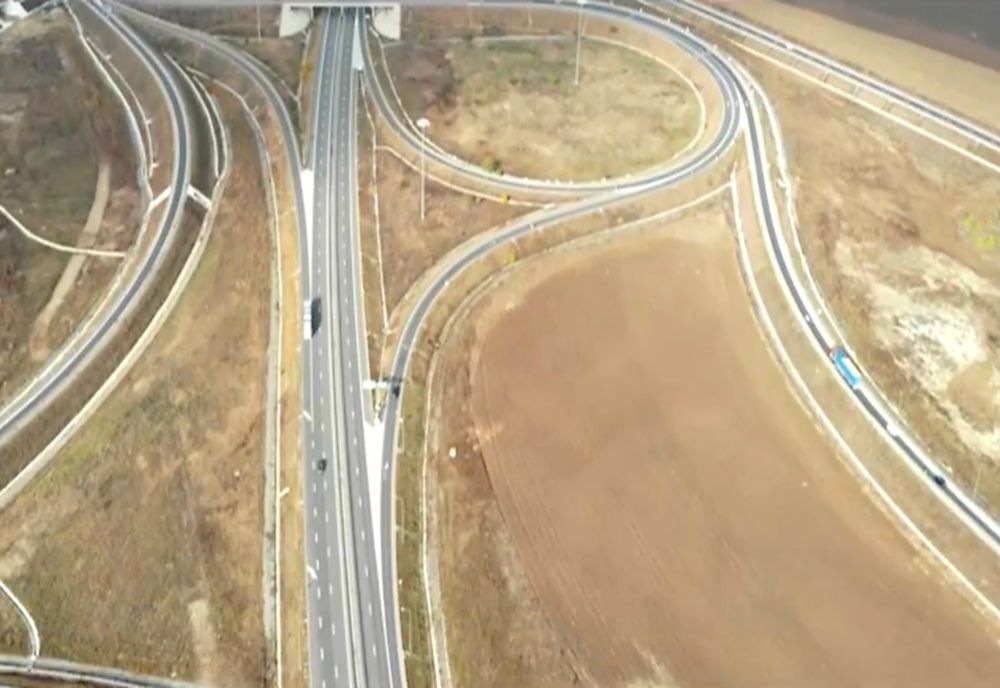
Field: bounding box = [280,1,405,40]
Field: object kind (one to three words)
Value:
overpass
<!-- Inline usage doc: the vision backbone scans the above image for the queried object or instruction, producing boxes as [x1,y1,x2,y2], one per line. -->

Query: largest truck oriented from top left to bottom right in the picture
[831,355,862,387]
